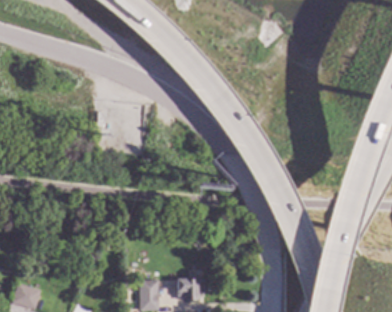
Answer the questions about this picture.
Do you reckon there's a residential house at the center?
No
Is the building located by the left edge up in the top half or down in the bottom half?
bottom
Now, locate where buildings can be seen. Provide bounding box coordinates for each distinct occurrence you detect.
[140,281,160,310]
[166,276,207,304]
[14,286,40,310]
